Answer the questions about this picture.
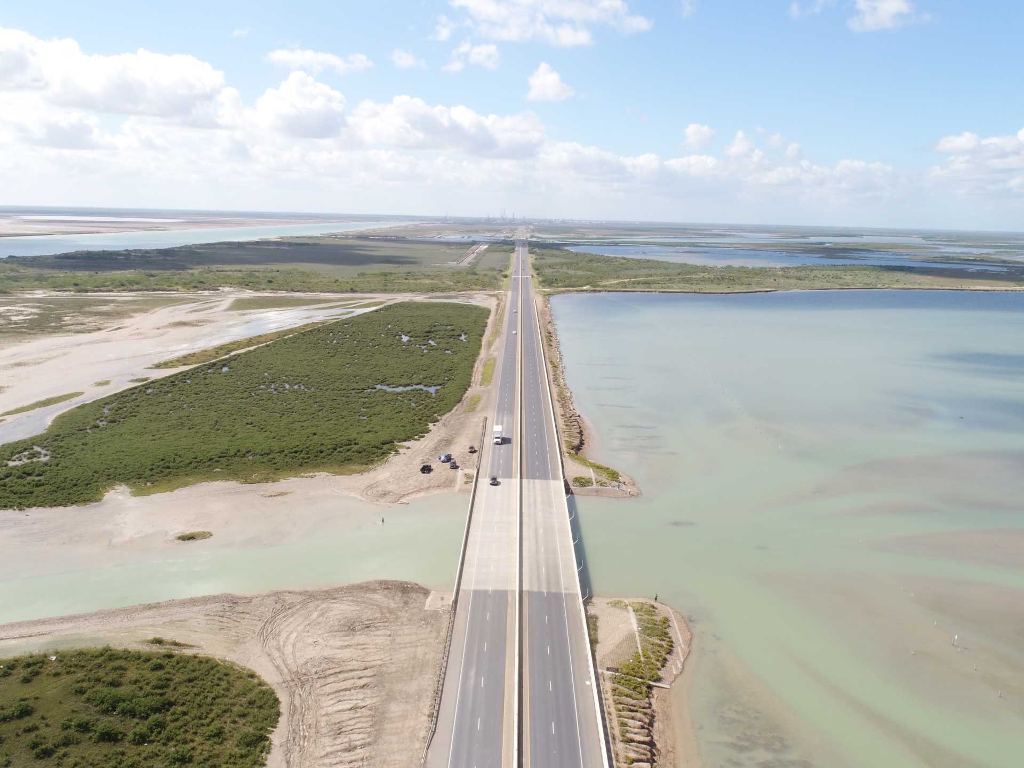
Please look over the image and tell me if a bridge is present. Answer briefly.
Yes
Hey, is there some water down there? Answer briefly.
Yes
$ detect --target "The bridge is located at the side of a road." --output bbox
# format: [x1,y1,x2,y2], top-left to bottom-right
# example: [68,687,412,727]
[451,475,585,601]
